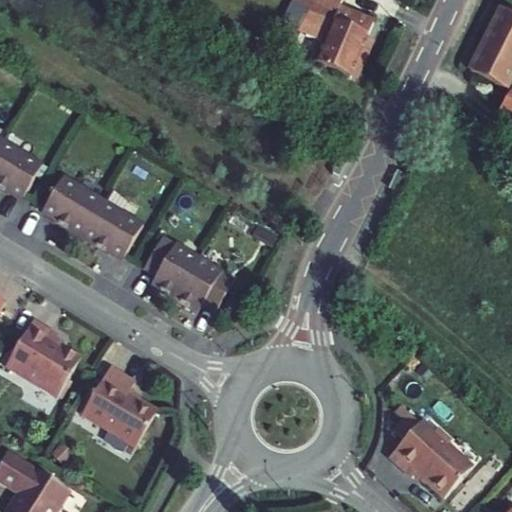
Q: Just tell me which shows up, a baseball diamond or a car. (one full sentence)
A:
Visible in the photo is a car.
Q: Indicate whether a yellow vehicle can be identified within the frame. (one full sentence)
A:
No, the frame has no yellow vehicle in it.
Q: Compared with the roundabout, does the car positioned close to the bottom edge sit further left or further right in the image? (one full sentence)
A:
In the image, the car positioned close to the bottom edge sits on the right side of the roundabout.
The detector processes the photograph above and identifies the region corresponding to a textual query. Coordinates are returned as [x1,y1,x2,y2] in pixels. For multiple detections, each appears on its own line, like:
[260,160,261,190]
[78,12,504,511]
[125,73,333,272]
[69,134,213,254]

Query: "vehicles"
[2,196,16,218]
[196,310,210,332]
[409,484,432,504]
[15,308,33,328]
[133,272,148,294]
[355,0,379,12]
[23,209,40,232]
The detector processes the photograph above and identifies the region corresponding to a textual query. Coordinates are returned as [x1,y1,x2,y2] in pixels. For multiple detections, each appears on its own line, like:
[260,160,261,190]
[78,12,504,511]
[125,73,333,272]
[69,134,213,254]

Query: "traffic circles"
[212,340,361,496]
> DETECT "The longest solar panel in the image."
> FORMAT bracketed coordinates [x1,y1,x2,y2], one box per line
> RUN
[94,397,141,428]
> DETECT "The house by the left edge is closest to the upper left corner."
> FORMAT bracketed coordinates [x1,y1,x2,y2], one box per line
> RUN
[0,138,43,198]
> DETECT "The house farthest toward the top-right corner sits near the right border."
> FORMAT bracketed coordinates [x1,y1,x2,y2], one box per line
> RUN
[468,4,512,91]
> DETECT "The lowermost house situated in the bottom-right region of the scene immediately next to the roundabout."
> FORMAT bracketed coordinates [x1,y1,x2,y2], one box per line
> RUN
[389,419,474,498]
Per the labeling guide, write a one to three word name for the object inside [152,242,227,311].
house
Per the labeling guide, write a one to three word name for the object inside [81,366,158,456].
house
